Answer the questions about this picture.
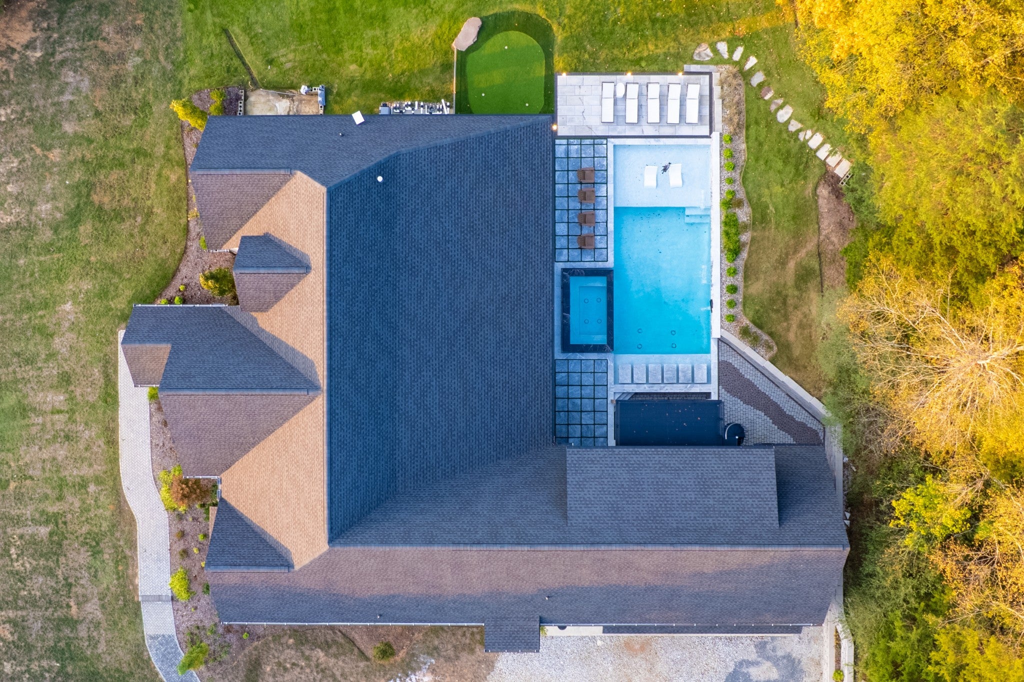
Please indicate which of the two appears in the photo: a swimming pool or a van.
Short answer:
swimming pool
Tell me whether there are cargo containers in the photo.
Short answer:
No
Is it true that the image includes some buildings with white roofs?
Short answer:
No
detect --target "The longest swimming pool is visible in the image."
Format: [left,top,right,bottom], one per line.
[608,132,720,444]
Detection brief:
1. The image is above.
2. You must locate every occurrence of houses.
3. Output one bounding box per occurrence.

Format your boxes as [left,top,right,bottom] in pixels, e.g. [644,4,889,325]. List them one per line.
[121,113,849,656]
